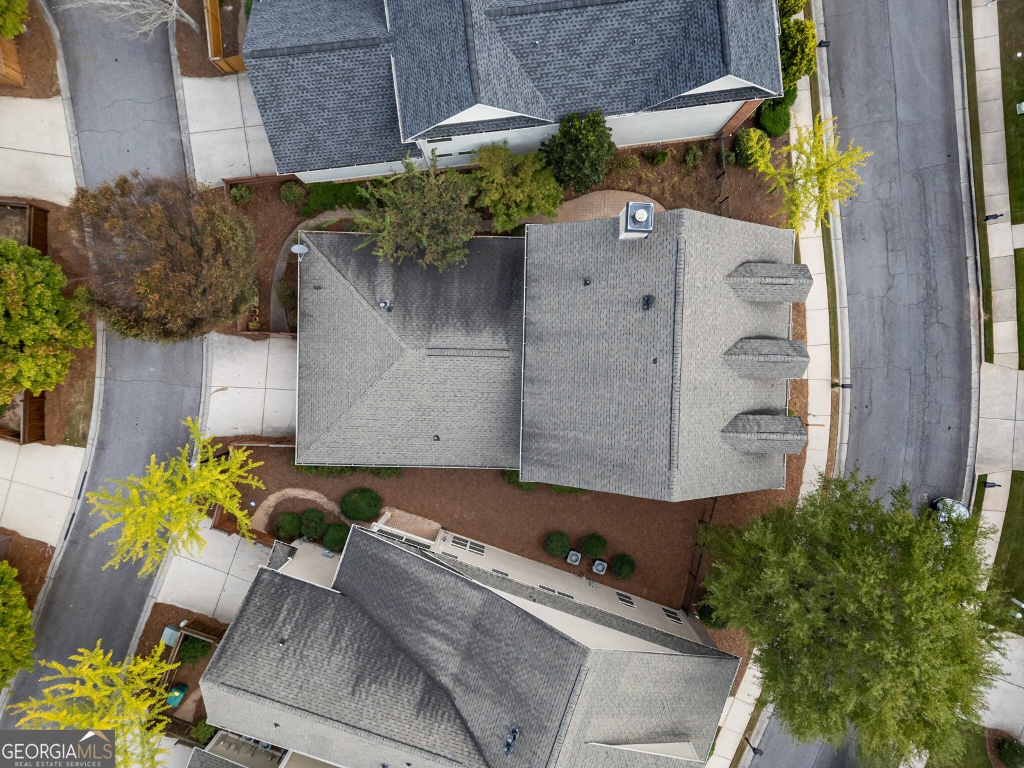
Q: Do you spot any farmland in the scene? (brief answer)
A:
No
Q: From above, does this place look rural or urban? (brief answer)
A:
urban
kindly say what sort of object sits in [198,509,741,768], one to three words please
house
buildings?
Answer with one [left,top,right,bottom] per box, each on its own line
[242,0,786,184]
[198,509,741,768]
[291,202,816,501]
